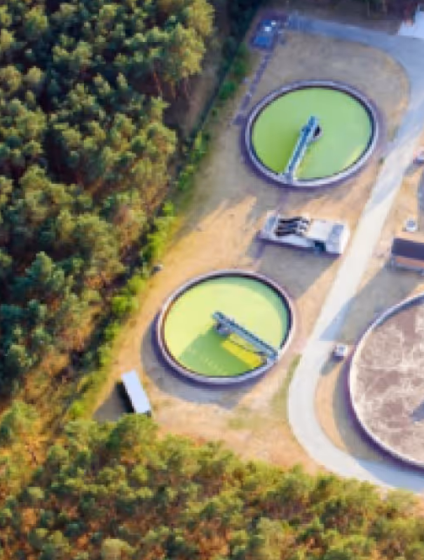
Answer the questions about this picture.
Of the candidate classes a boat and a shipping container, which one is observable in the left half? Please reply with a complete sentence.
Visible in the left half is a shipping container.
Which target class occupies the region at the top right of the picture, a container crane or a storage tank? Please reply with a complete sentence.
Visible at the top right of the picture is a storage tank.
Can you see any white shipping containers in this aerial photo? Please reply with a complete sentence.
Yes, there is a white shipping container in the image.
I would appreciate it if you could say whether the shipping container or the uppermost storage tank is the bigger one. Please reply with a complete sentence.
The storage tank is larger than the shipping container.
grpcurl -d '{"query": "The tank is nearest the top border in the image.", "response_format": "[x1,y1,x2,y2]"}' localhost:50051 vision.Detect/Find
[239,81,385,195]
